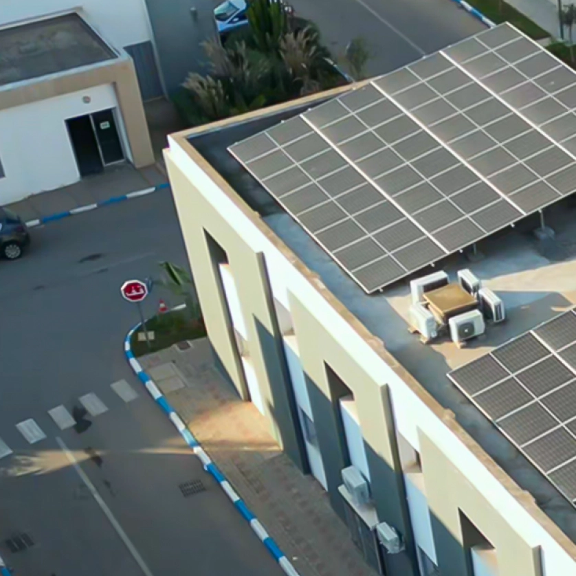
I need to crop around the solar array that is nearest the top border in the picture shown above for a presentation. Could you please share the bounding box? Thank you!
[230,24,576,292]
